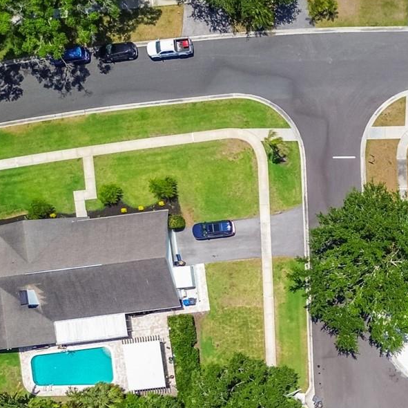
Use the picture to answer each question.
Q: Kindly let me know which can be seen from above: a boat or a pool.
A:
pool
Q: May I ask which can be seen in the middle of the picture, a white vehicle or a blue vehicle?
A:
blue vehicle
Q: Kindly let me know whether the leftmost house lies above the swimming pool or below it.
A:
above it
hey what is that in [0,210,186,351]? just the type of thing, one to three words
house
